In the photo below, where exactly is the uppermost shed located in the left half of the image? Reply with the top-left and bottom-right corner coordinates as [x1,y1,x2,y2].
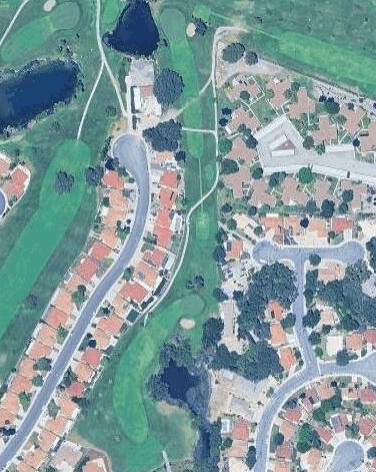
[129,63,151,83]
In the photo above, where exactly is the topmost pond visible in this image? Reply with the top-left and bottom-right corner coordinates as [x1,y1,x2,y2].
[104,0,159,57]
